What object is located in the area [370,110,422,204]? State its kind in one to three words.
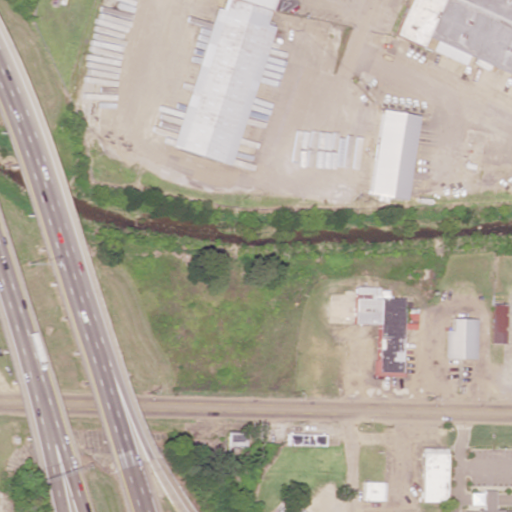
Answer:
shed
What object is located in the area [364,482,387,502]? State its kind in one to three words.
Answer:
building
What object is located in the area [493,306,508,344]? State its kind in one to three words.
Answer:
barn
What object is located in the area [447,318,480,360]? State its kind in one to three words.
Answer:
building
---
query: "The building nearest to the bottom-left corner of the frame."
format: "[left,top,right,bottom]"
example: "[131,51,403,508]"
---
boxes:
[226,432,250,452]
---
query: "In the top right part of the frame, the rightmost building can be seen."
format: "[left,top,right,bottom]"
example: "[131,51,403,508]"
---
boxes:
[398,0,512,75]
